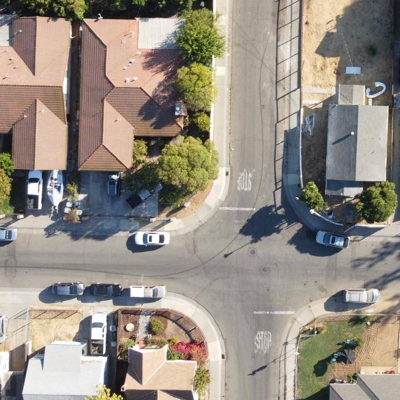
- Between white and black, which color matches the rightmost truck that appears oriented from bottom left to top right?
black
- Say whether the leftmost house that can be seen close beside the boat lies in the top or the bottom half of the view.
top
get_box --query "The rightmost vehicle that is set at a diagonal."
[124,179,161,213]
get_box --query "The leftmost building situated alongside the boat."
[0,15,75,170]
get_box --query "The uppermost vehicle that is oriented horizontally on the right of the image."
[315,230,351,249]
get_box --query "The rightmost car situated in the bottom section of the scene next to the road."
[342,288,380,305]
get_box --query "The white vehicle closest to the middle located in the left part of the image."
[135,230,171,247]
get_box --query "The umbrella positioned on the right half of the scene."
[341,348,356,363]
